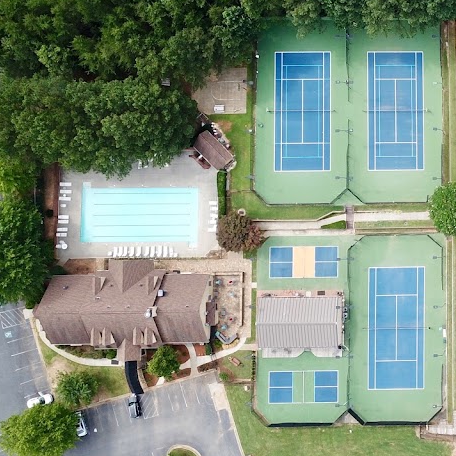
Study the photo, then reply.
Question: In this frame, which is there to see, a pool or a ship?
pool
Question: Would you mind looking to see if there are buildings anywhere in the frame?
Yes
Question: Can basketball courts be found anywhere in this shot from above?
Yes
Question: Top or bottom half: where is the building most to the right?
bottom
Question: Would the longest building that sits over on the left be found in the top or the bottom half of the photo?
bottom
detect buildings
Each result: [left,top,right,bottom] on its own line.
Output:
[35,259,223,363]
[253,288,347,357]
[193,130,235,170]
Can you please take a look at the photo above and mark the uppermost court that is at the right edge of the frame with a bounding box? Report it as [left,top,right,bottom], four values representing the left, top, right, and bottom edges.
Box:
[348,16,442,202]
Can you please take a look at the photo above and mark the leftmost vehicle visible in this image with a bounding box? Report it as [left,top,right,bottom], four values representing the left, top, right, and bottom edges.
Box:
[28,390,54,407]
